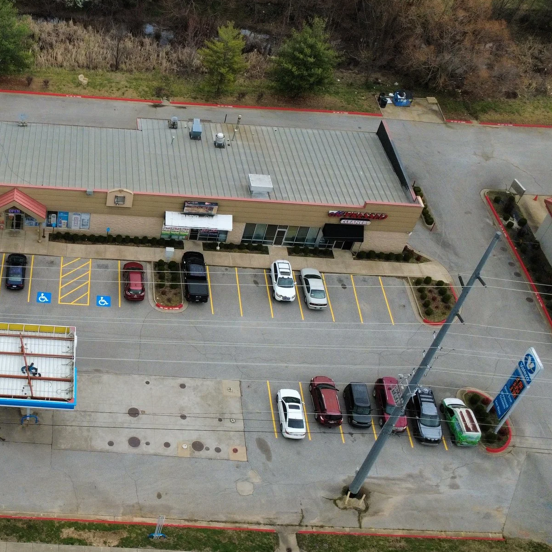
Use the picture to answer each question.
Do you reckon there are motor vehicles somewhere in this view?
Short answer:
Yes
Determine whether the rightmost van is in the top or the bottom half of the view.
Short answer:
bottom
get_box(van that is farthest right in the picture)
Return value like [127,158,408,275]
[437,396,481,445]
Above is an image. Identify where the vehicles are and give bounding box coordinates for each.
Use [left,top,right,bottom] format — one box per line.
[408,387,444,445]
[437,396,481,445]
[181,252,208,302]
[273,260,301,305]
[273,384,307,436]
[121,262,145,304]
[370,374,408,431]
[3,253,26,291]
[340,373,375,429]
[308,373,346,424]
